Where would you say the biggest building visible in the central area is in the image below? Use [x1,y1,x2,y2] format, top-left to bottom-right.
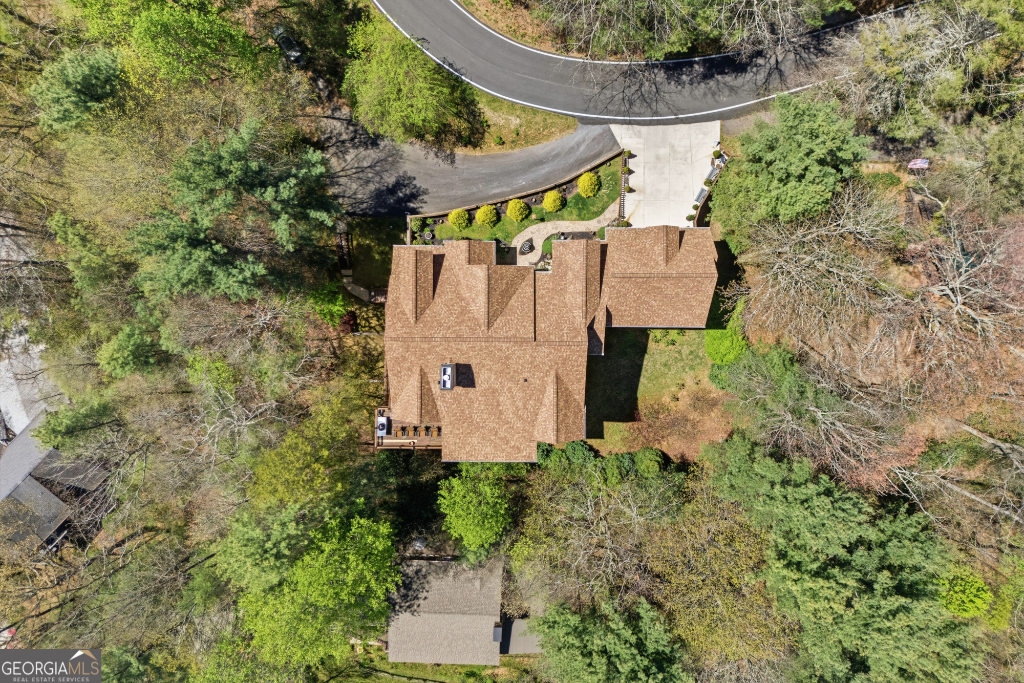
[384,225,718,463]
